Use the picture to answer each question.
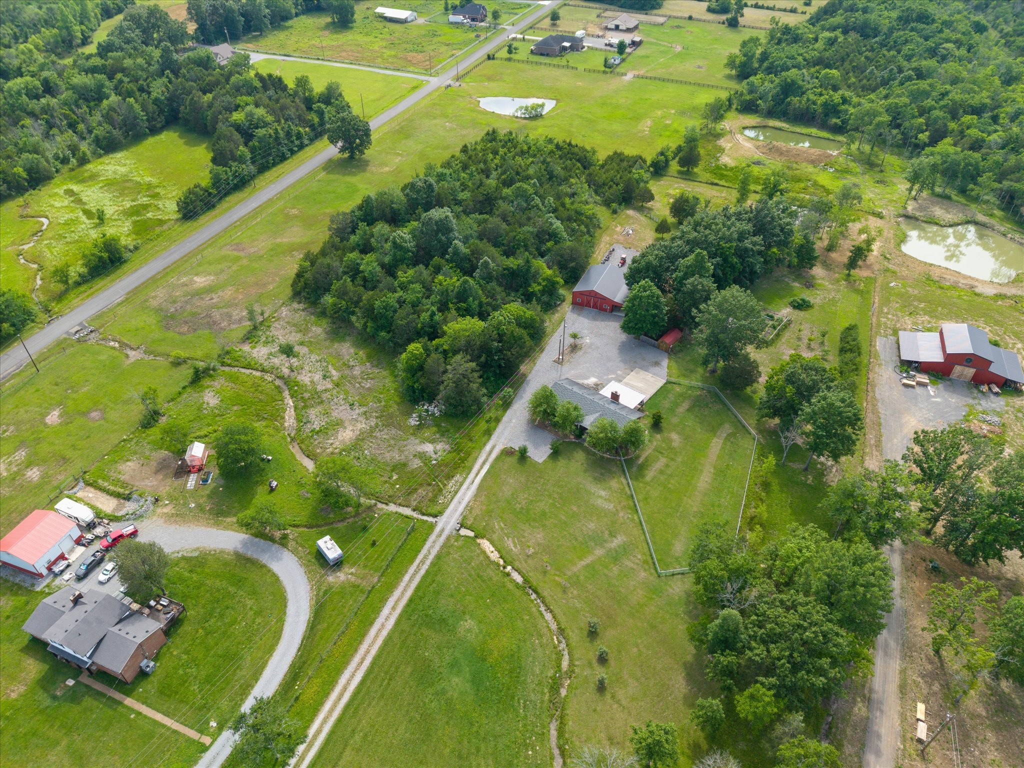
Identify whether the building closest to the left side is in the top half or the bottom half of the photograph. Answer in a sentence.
The bottom half of the photo is where the building closest to the left side is.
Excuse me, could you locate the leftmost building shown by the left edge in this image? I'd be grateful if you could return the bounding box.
[0,509,84,578]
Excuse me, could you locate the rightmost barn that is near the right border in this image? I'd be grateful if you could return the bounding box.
[895,323,1024,393]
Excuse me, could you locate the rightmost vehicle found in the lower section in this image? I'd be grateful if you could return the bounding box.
[317,535,345,570]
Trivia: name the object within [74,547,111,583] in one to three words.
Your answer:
truck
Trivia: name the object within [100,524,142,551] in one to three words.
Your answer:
truck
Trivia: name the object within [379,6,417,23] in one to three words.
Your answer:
barn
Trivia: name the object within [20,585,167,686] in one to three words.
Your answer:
house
